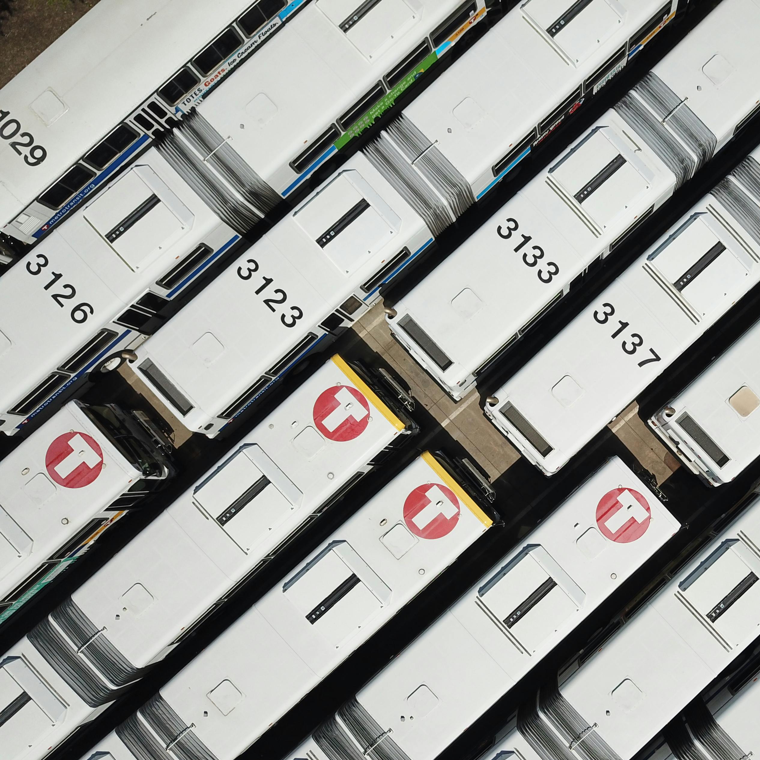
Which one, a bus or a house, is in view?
bus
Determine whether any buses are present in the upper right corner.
Yes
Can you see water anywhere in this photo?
No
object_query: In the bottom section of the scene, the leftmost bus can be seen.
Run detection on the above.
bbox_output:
[0,389,186,631]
